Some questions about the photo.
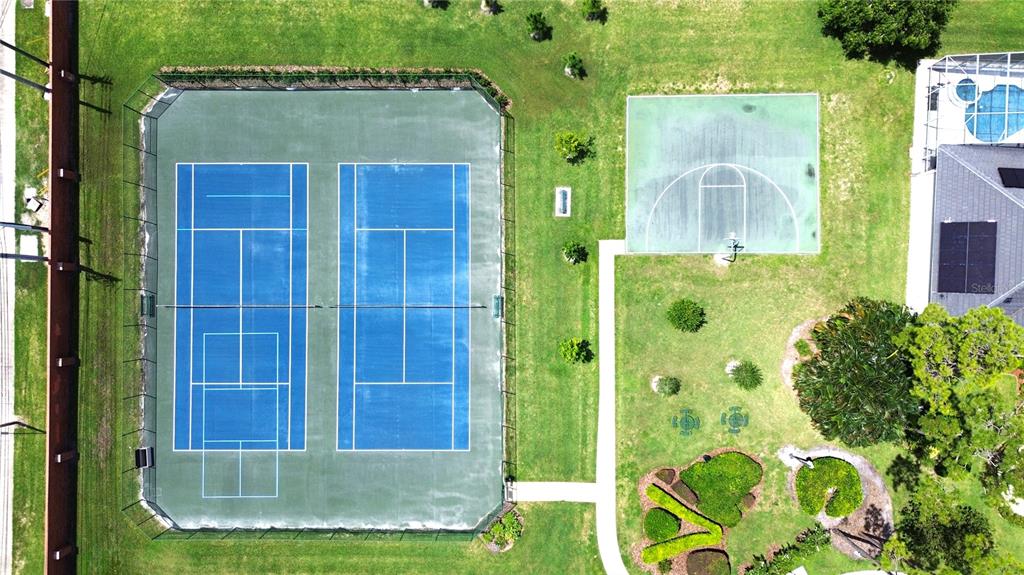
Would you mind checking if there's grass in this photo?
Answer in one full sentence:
Yes, some grass is visible.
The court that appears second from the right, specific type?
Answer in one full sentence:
The court that appears second from the right can be classified as a tennis court.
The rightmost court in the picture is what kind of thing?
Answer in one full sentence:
Looking closely, the rightmost court is a basketball court.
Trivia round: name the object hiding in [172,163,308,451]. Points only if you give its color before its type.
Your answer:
blue tennis court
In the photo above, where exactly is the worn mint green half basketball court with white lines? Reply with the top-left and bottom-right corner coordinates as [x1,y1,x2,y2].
[626,94,820,253]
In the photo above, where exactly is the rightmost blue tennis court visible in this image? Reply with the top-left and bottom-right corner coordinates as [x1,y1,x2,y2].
[336,163,471,451]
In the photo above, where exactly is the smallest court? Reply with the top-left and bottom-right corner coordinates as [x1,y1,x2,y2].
[202,333,279,498]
